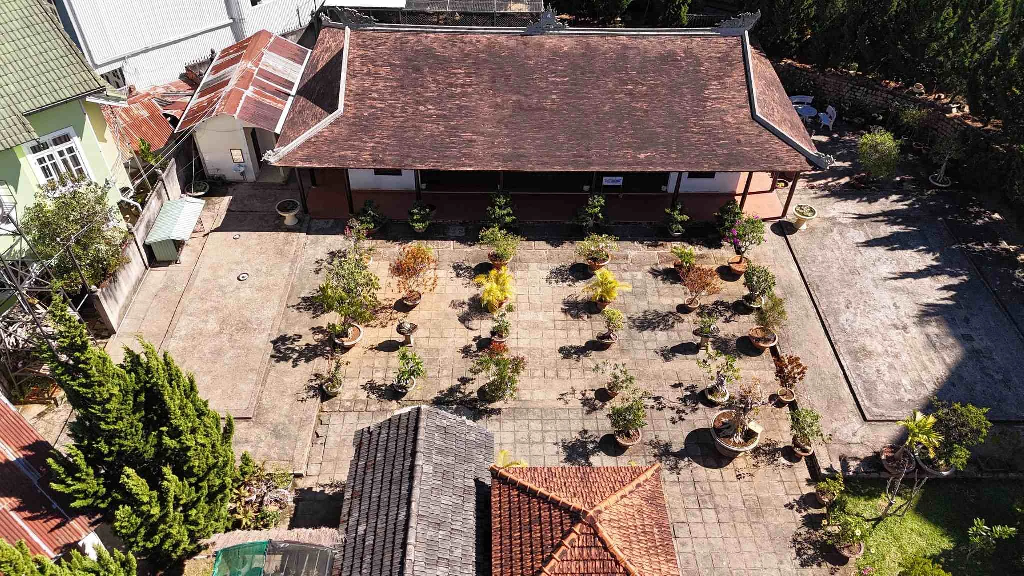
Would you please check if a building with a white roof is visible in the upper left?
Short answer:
Yes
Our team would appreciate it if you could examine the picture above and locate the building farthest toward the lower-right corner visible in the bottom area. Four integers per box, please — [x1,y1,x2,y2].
[487,461,684,576]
